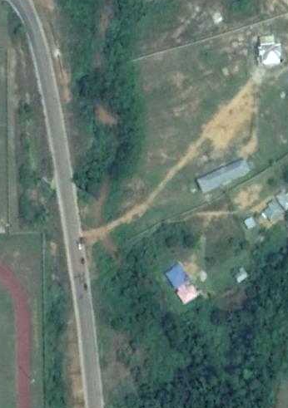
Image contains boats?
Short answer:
No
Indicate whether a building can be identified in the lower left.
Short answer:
No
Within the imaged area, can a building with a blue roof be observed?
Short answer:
Yes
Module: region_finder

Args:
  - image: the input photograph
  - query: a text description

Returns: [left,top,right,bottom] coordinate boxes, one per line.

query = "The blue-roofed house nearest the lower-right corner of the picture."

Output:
[167,263,190,289]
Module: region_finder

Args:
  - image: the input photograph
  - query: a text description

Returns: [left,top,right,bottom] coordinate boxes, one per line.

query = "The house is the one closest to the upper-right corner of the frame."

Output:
[259,36,282,68]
